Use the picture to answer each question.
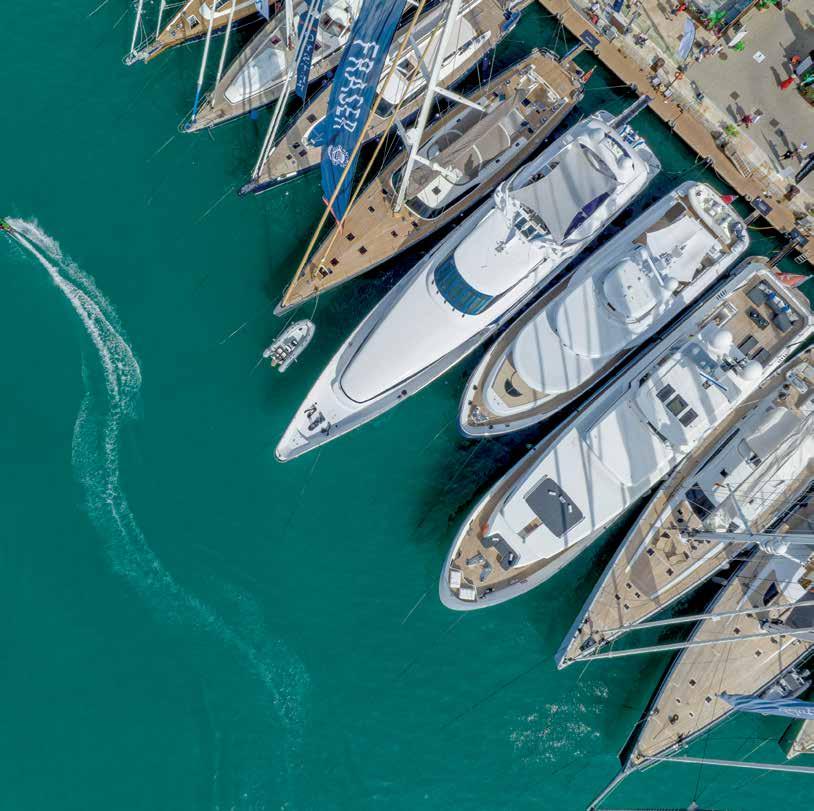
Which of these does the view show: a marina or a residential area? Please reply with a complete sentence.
This looks like a marina.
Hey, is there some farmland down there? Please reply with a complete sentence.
No, no farmland is visible.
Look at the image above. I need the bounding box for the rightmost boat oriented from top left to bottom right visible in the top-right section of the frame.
[692,186,746,253]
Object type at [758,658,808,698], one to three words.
boat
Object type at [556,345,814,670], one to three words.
boat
